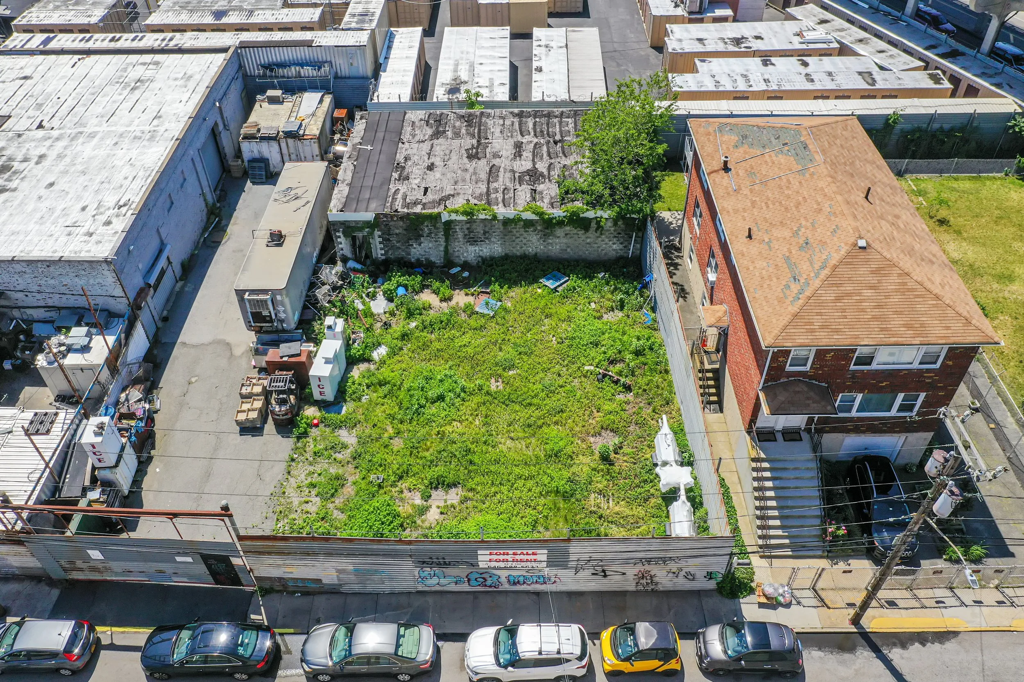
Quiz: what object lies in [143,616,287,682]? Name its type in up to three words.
car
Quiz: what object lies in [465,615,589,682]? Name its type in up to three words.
car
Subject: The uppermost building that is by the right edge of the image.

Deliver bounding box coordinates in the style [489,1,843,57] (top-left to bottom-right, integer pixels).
[657,115,1008,557]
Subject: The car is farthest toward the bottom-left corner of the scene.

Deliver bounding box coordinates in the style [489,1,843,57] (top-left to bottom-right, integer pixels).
[0,617,114,680]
